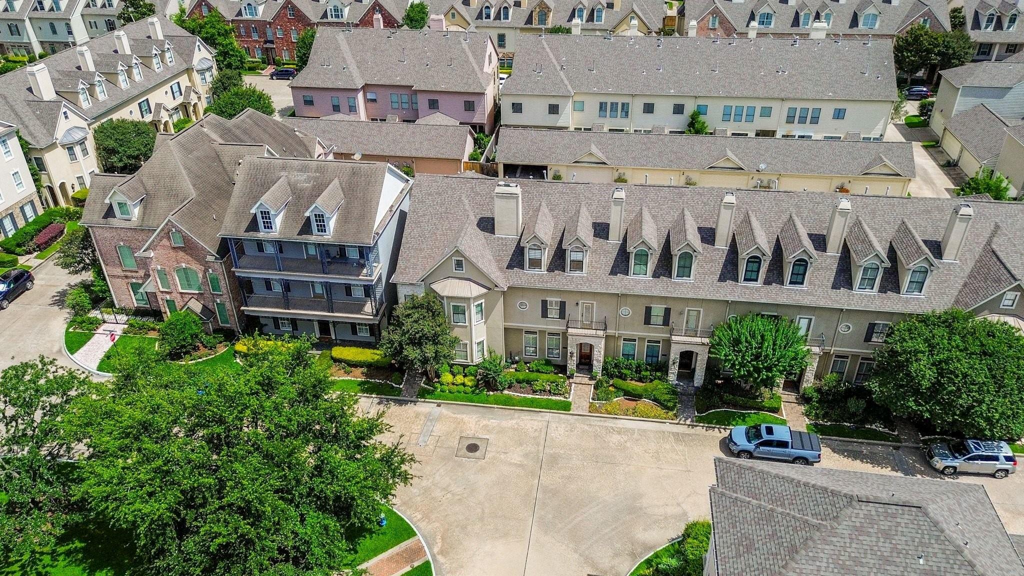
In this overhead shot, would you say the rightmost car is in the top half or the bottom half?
bottom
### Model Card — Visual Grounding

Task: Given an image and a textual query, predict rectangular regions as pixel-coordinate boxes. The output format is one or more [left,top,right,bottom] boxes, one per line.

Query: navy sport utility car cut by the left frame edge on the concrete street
[0,270,33,309]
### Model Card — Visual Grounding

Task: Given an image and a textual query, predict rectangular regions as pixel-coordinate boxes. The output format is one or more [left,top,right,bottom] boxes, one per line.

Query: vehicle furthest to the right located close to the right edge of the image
[921,434,1024,479]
